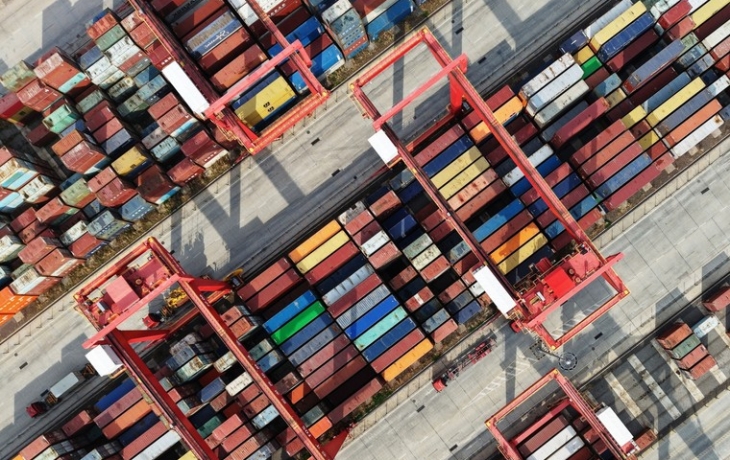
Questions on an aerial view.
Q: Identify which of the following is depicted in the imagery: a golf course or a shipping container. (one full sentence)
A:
Looking from above, you can make out a shipping container.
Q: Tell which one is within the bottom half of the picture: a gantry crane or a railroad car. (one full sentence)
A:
Visible within the bottom half of the picture is a gantry crane.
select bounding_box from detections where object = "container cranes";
[351,30,627,349]
[114,0,332,153]
[76,242,349,460]
[483,370,640,460]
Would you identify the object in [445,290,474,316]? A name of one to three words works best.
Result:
shipping container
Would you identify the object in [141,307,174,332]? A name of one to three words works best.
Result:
truck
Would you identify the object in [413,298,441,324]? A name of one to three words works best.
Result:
shipping container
